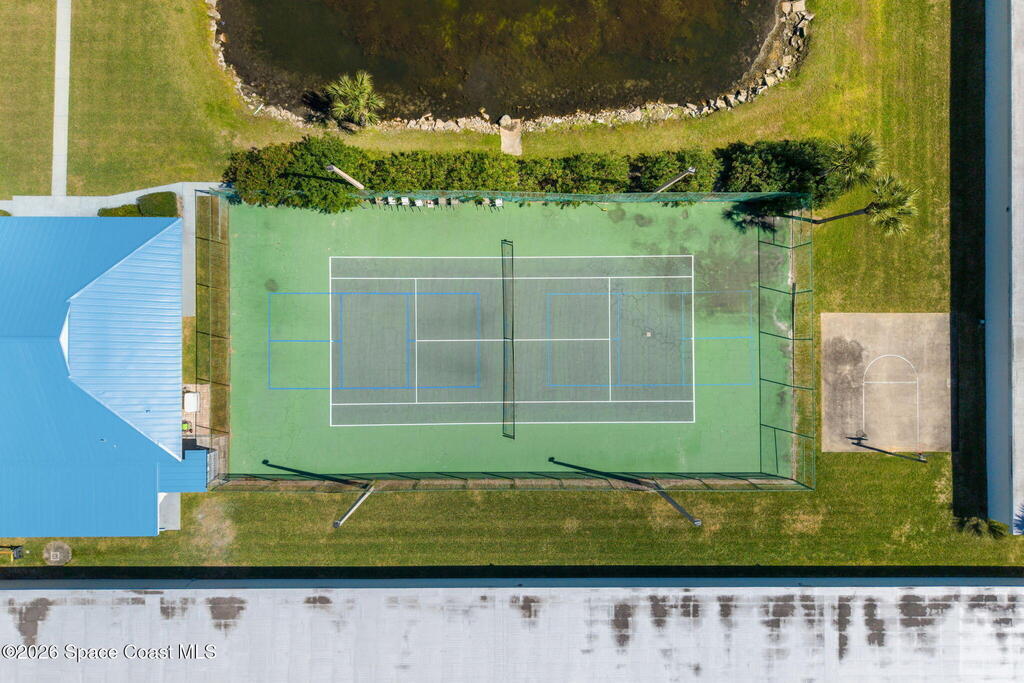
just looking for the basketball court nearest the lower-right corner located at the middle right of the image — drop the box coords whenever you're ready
[821,312,957,453]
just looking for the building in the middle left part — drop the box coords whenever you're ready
[0,216,216,536]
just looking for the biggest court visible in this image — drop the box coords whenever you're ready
[229,199,796,480]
